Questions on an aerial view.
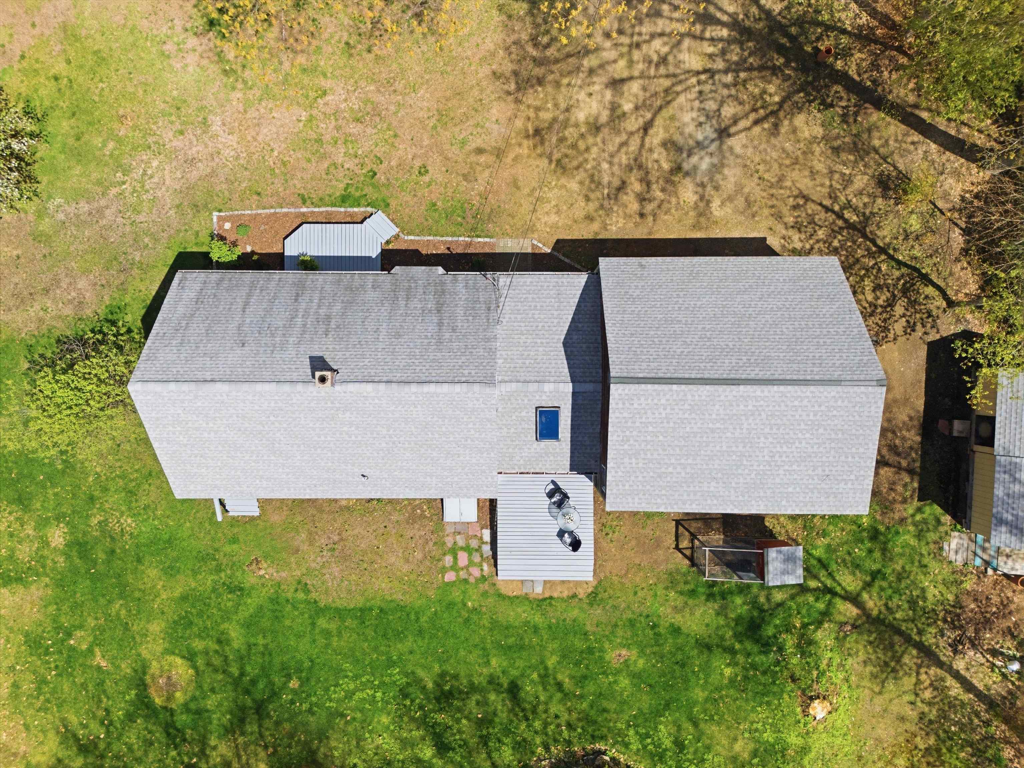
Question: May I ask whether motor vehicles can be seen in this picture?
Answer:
No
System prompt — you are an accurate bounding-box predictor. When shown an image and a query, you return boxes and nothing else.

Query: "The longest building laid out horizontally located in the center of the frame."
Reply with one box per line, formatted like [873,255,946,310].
[128,257,888,515]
